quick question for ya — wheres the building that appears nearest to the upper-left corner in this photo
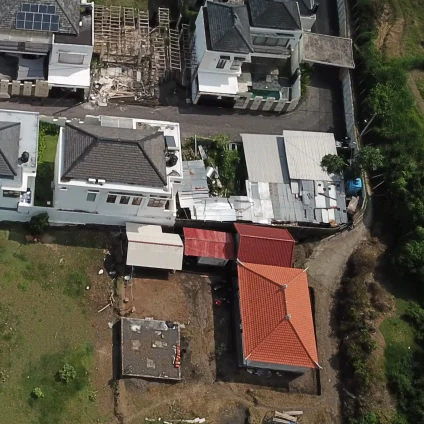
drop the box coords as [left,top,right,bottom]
[0,0,96,103]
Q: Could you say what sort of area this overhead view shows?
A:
residential area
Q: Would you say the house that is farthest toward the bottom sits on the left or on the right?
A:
right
